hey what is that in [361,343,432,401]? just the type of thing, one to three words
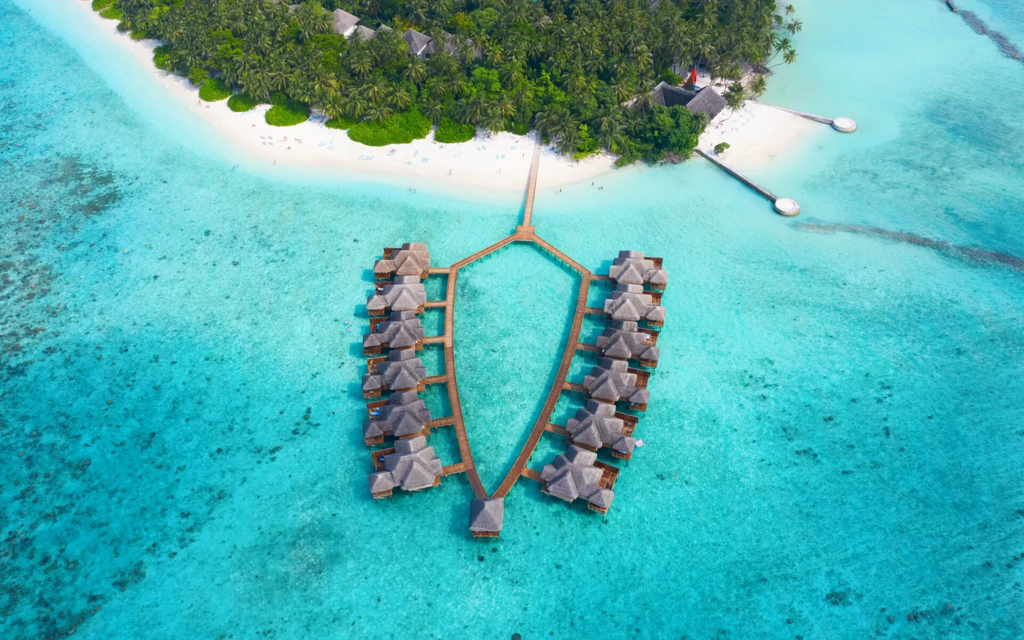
house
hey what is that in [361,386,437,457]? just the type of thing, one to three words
house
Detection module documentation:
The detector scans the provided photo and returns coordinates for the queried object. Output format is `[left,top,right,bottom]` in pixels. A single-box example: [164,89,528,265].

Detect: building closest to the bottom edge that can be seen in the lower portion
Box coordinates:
[469,498,504,549]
